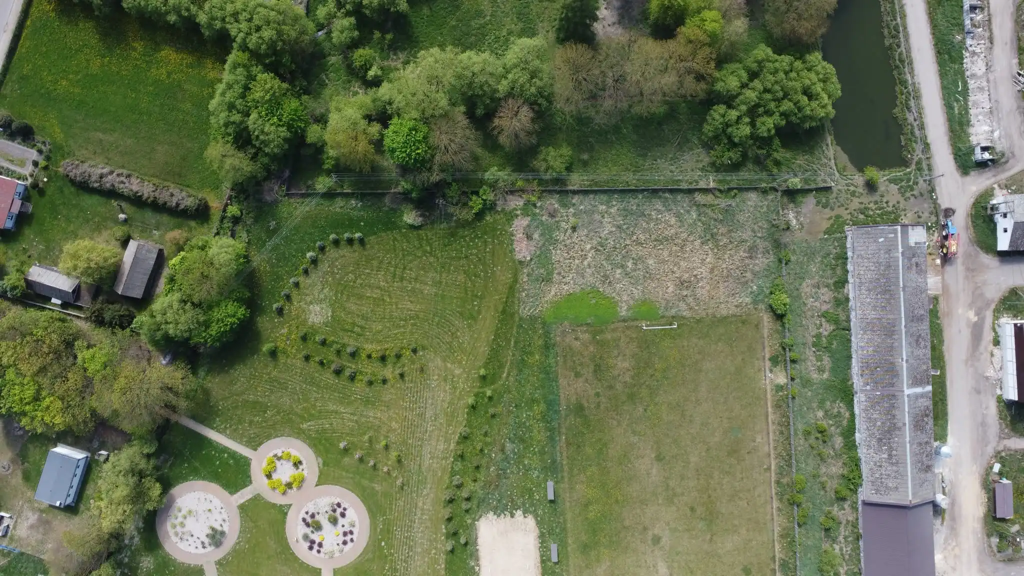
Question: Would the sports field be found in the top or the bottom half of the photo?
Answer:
bottom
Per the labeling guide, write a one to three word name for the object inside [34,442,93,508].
building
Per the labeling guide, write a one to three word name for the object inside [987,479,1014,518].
shed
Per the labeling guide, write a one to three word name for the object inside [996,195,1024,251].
building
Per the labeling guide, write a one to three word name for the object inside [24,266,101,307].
barn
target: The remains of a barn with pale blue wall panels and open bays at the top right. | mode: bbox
[960,0,988,45]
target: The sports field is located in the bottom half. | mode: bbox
[558,316,774,576]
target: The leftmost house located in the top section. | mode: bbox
[0,175,30,229]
